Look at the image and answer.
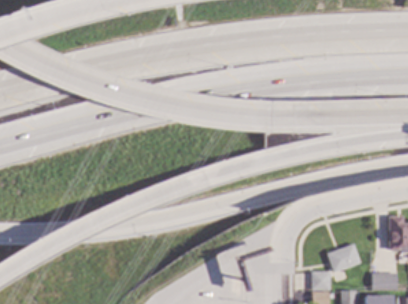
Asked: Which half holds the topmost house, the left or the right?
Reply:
right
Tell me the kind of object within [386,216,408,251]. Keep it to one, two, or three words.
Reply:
house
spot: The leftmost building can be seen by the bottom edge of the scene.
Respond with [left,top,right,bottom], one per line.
[311,270,331,304]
